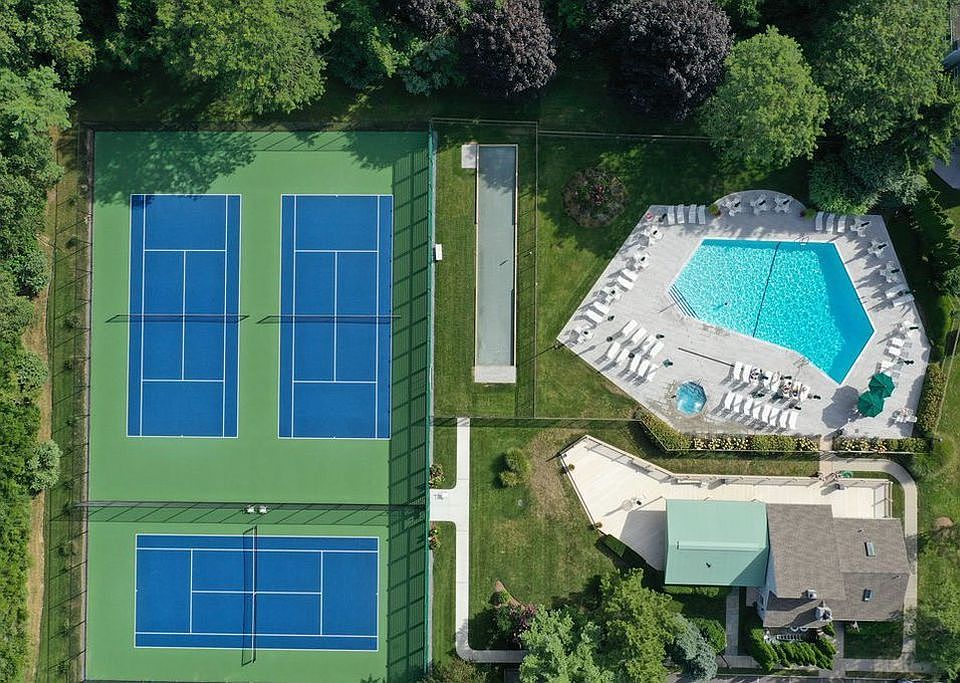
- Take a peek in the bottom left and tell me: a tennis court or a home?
tennis court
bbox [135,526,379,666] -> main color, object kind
blue tennis court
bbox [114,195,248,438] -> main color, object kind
blue tennis court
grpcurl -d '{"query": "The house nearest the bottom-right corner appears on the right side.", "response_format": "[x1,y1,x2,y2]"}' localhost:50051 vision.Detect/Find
[759,502,910,628]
